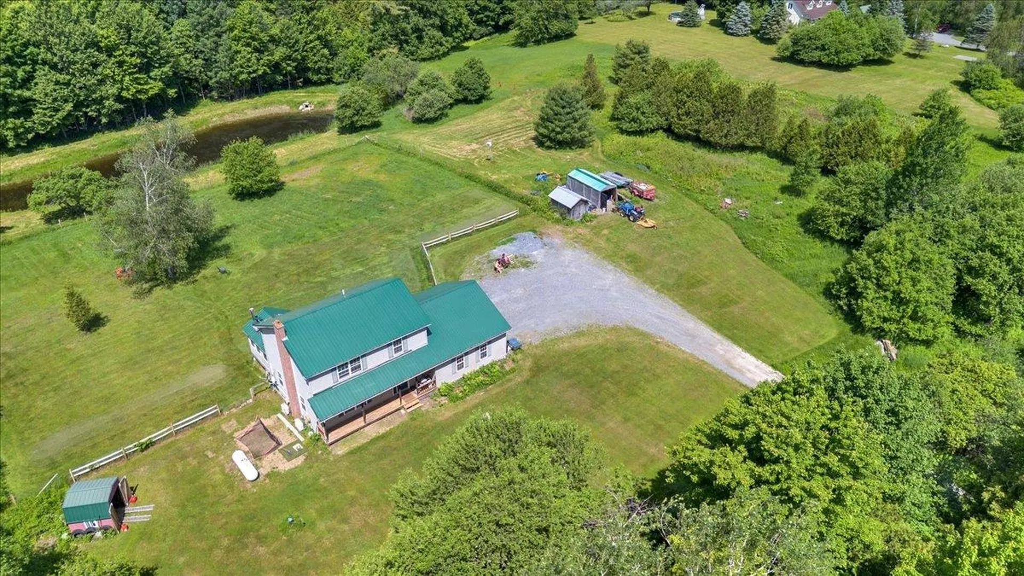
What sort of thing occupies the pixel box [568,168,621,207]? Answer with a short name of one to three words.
shed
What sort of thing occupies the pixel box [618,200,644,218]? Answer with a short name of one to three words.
work vehicle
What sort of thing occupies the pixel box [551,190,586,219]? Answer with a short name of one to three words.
shed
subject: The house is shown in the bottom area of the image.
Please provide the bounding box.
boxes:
[241,278,511,445]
